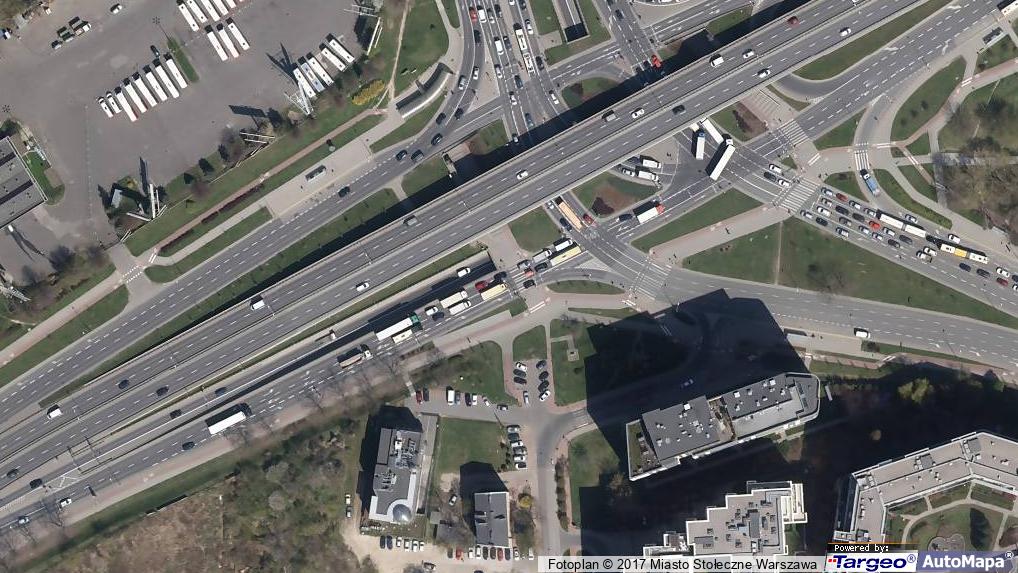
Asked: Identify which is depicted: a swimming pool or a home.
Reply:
home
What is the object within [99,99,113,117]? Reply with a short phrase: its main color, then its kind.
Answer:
white vehicle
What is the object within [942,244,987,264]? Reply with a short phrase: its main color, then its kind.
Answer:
white vehicle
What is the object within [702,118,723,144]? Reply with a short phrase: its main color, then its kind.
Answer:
white bus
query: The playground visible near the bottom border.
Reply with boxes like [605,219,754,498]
[930,535,965,573]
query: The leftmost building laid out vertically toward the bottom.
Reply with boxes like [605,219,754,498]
[369,429,422,528]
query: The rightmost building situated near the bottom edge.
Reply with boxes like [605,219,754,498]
[828,433,1018,573]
